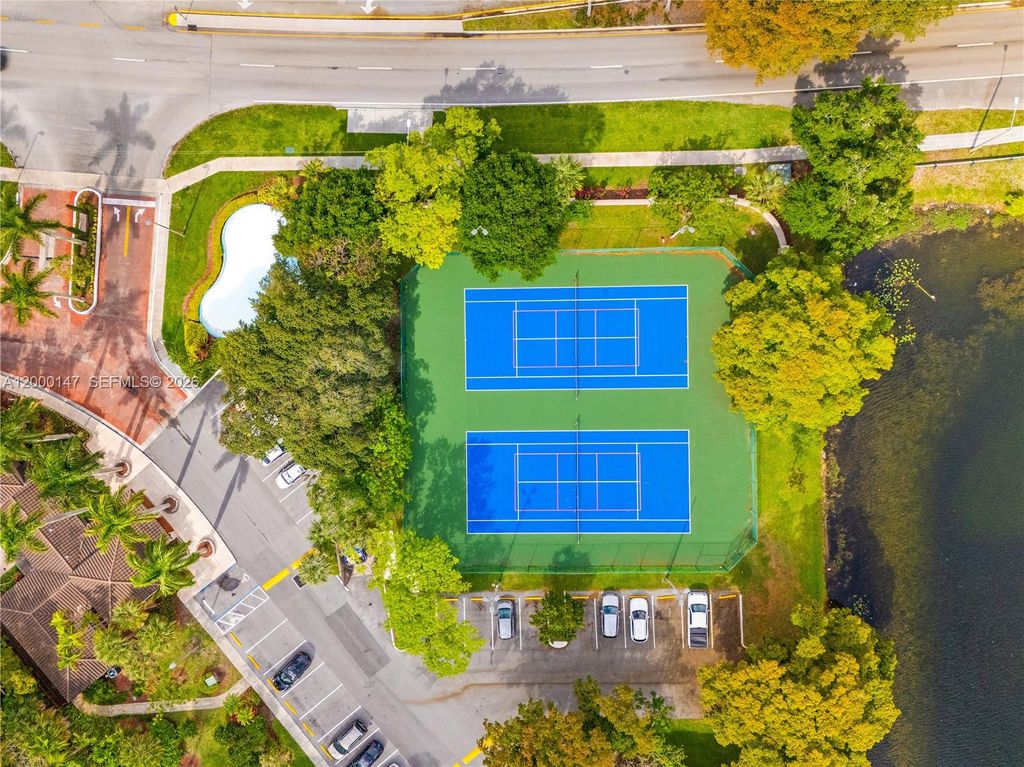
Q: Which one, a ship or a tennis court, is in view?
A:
tennis court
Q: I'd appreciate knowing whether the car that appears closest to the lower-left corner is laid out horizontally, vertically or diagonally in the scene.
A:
diagonally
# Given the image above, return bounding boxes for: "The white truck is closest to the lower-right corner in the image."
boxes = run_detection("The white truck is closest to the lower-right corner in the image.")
[686,590,710,648]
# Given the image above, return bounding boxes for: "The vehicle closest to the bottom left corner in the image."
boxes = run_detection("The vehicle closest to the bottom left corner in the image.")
[272,652,313,689]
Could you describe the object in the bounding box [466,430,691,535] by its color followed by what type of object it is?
blue tennis court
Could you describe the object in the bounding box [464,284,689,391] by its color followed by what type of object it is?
blue tennis court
